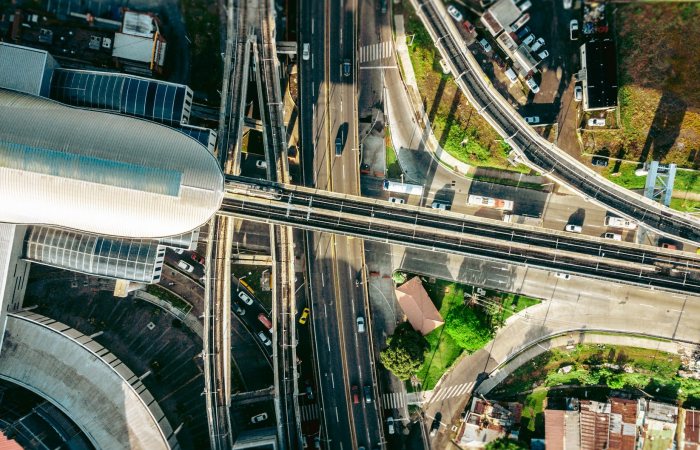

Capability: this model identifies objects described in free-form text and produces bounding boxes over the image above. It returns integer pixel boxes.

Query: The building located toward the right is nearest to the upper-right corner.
[574,38,617,111]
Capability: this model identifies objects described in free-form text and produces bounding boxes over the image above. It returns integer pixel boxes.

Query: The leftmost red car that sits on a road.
[190,252,205,265]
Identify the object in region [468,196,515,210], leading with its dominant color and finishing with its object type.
white vehicle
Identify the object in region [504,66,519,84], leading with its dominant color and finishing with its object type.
white vehicle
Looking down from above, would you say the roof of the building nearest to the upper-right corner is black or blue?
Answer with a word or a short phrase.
black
